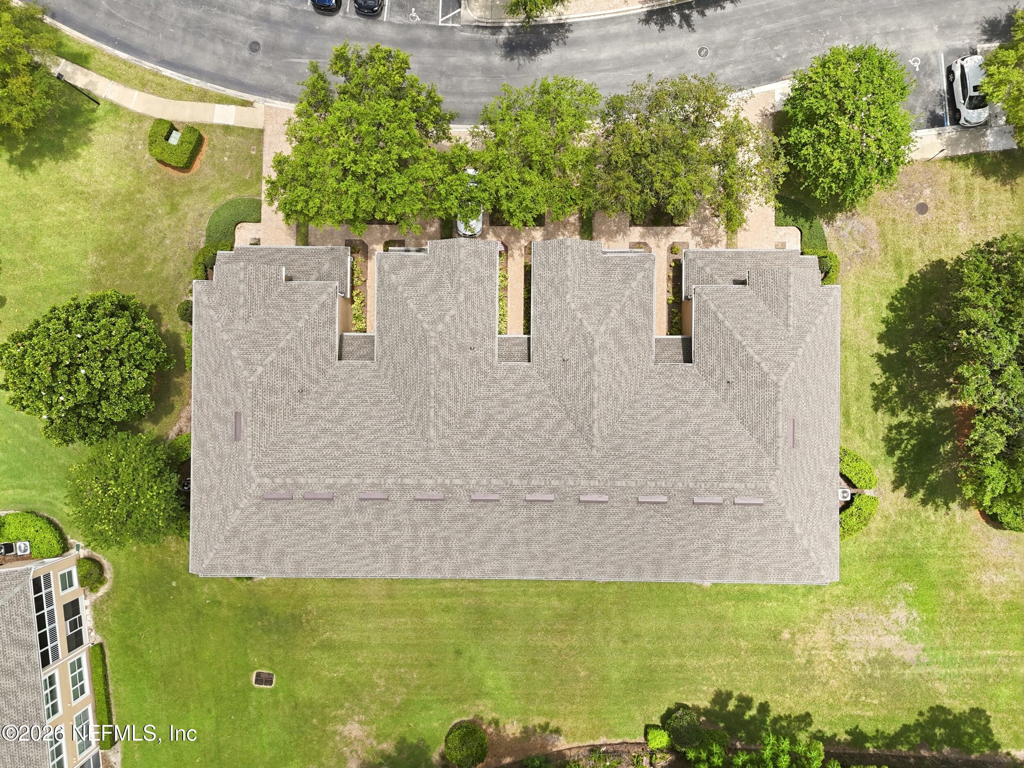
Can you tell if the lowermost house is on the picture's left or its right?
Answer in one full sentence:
The lowermost house sits on the left side.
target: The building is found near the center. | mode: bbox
[187,237,842,584]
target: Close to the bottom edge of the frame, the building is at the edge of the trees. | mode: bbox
[0,551,107,768]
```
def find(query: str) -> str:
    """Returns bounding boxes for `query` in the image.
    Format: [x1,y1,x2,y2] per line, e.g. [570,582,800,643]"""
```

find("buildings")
[0,551,107,768]
[187,237,842,584]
